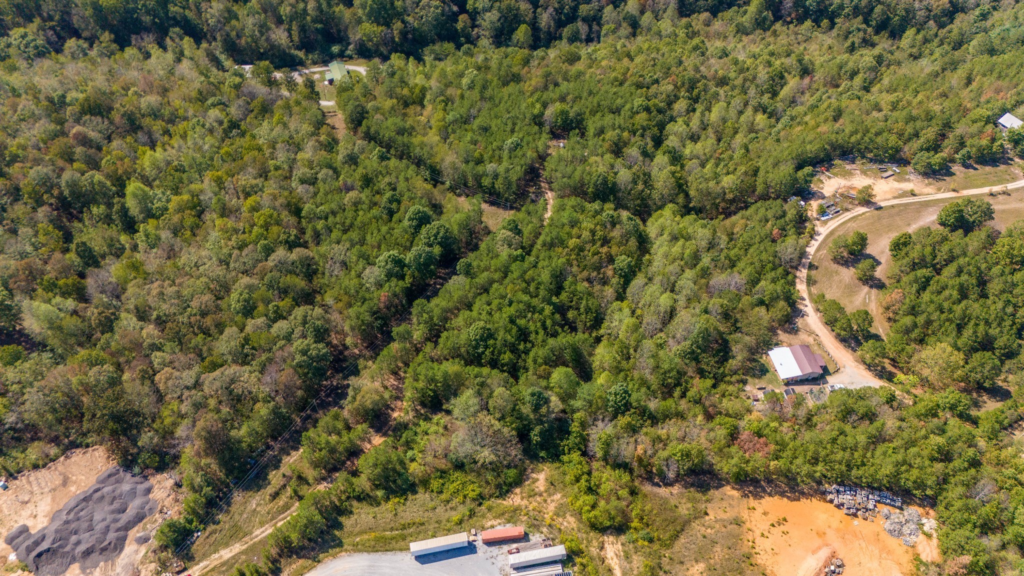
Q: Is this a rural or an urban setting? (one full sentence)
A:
From above, the setting appears rural.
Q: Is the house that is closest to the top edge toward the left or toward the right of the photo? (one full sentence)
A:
The house that is closest to the top edge sits on the left side.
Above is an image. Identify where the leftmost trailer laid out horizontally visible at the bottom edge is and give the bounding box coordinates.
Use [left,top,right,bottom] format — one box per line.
[410,532,468,557]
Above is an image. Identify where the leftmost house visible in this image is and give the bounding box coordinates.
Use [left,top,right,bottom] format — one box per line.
[326,63,355,91]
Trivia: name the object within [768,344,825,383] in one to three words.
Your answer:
house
